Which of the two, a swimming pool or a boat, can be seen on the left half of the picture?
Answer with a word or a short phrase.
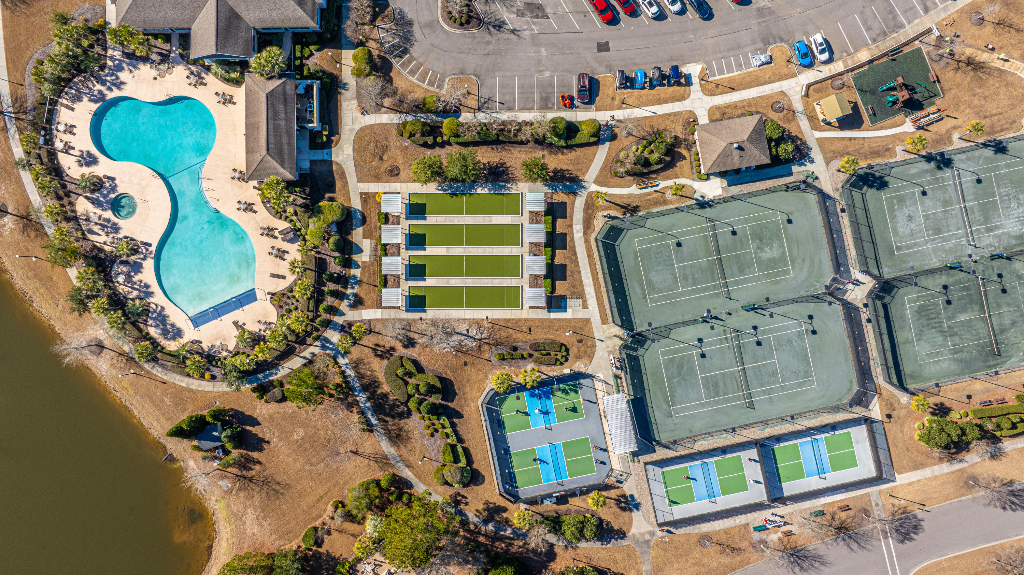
swimming pool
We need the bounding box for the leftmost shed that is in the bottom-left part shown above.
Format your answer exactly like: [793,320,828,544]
[197,423,225,451]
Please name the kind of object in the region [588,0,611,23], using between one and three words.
car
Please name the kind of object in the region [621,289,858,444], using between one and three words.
tennis court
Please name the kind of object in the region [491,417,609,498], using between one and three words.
sports court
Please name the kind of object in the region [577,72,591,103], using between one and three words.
car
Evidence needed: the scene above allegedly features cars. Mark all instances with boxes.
[663,0,681,15]
[792,39,811,67]
[616,0,635,16]
[808,31,828,62]
[577,72,591,103]
[637,0,660,19]
[686,0,708,20]
[588,0,611,23]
